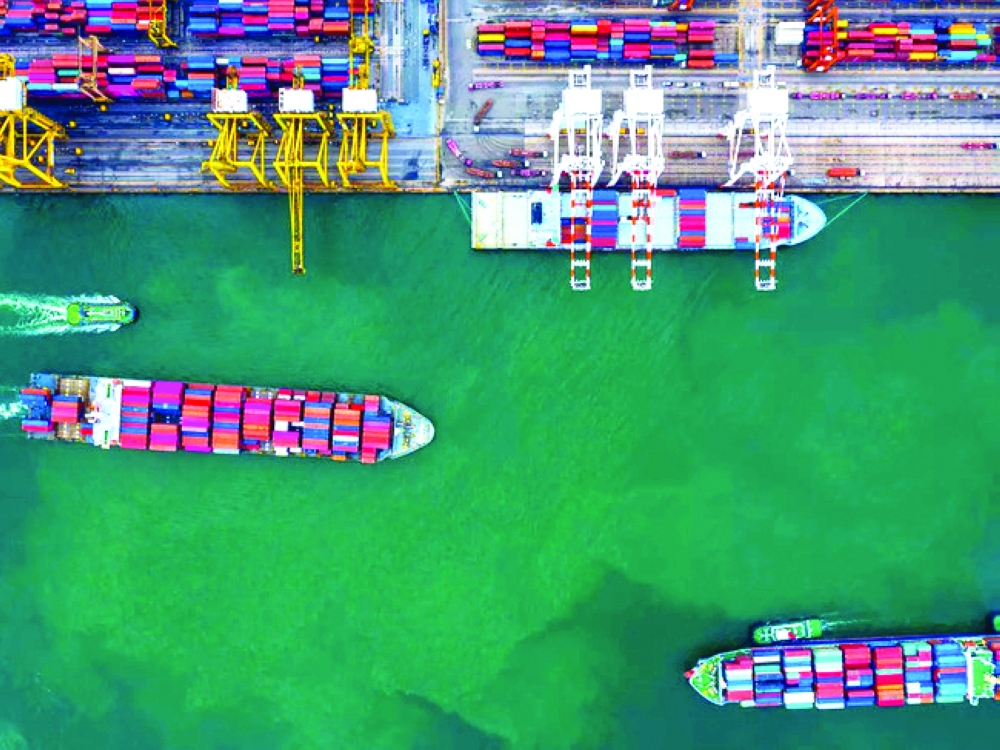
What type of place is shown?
port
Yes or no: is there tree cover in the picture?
No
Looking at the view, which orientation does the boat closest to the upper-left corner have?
from side to side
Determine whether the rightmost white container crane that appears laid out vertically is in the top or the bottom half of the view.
top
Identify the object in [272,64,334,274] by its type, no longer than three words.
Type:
container crane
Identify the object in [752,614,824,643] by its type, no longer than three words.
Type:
boat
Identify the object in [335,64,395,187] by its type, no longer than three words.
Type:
container crane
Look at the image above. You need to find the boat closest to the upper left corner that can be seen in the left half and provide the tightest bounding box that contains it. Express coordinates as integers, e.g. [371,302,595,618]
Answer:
[65,301,138,326]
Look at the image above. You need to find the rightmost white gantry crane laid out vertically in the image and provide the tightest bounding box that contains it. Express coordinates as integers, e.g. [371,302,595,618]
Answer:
[714,56,790,291]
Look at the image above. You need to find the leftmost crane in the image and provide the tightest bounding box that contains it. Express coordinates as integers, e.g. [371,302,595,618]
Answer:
[0,64,66,188]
